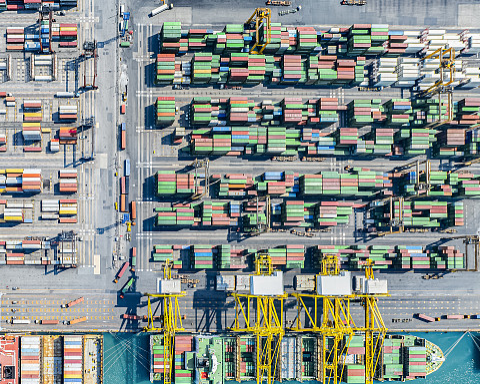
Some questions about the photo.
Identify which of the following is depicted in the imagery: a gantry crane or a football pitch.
gantry crane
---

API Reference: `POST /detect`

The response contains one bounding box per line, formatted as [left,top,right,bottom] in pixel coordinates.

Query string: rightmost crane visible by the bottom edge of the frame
[335,262,397,384]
